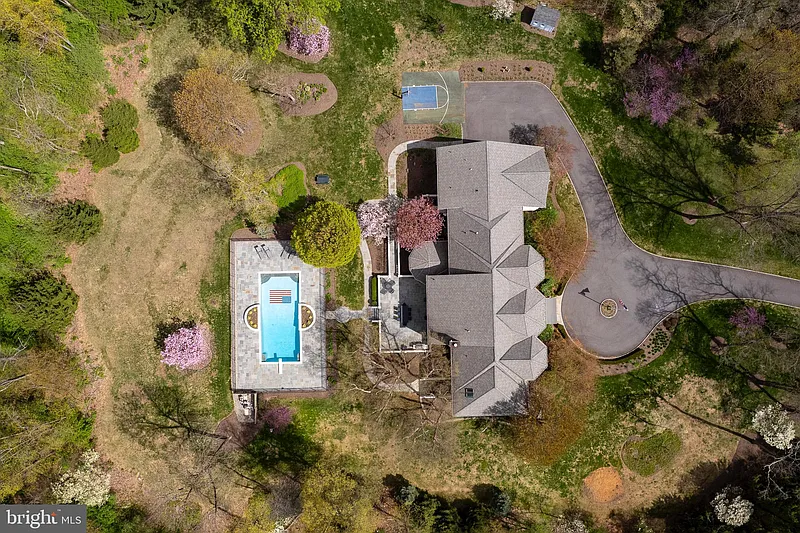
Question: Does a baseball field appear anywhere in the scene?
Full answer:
No, there is no baseball field in the image.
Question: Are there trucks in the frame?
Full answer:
No, no truck can be seen from above.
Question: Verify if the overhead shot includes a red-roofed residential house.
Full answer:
No, no red-roofed residential house can be seen from above.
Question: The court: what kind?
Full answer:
In the photo, the court shows up as a basketball court.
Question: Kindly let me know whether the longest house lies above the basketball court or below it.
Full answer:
Looking at the scene, the longest house is located below the basketball court.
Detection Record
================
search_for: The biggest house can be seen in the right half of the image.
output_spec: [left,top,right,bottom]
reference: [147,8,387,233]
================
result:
[409,140,555,417]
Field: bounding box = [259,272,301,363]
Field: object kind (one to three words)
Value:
swimming pool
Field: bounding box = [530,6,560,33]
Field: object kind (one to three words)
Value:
shed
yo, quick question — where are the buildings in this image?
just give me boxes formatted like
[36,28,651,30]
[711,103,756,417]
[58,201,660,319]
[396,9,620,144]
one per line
[530,6,560,33]
[409,140,555,417]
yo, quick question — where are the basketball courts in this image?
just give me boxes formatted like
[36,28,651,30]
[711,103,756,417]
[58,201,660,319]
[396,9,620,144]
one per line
[402,71,465,123]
